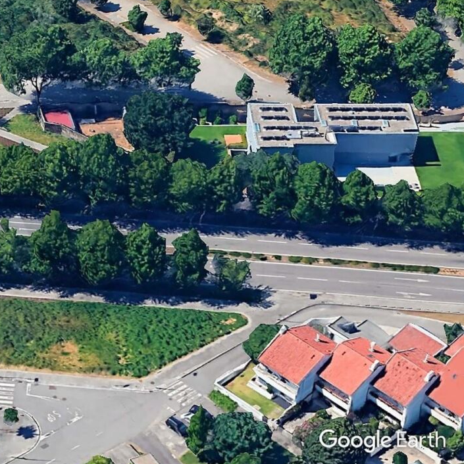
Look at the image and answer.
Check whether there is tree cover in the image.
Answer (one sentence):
Yes, tree cover shows up in the scene.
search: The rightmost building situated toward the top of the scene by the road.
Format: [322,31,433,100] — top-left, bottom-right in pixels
[244,103,420,174]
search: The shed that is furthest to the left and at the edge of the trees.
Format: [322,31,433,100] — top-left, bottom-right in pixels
[43,110,74,138]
